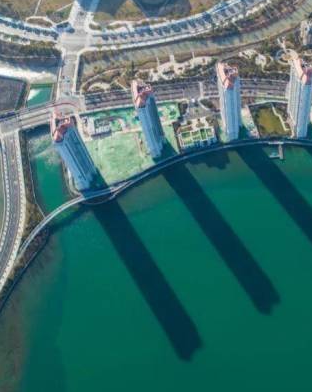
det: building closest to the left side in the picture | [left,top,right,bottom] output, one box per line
[48,109,92,192]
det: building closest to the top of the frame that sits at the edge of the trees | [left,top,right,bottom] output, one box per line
[296,19,312,45]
